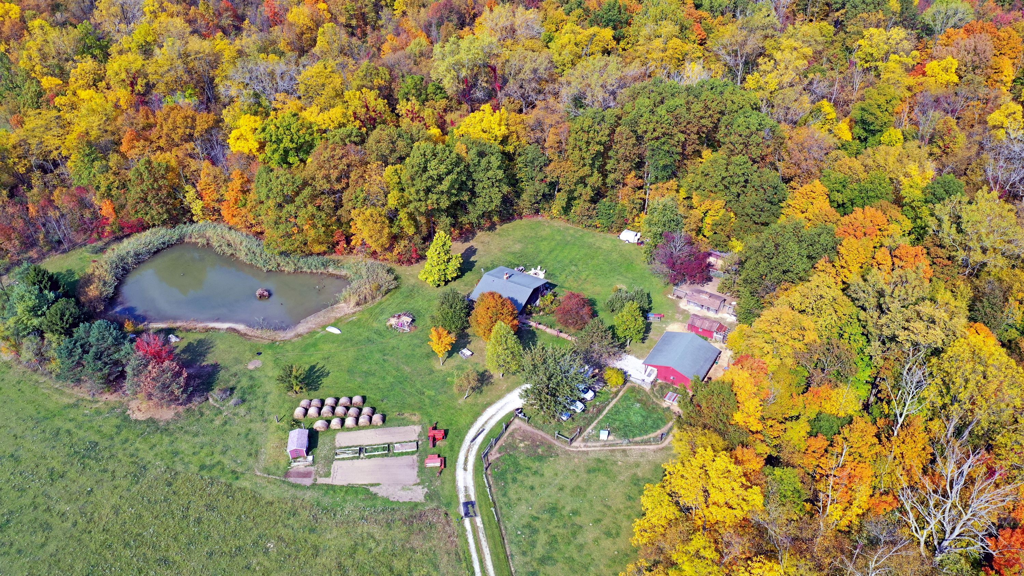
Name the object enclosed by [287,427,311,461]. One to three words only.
shed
